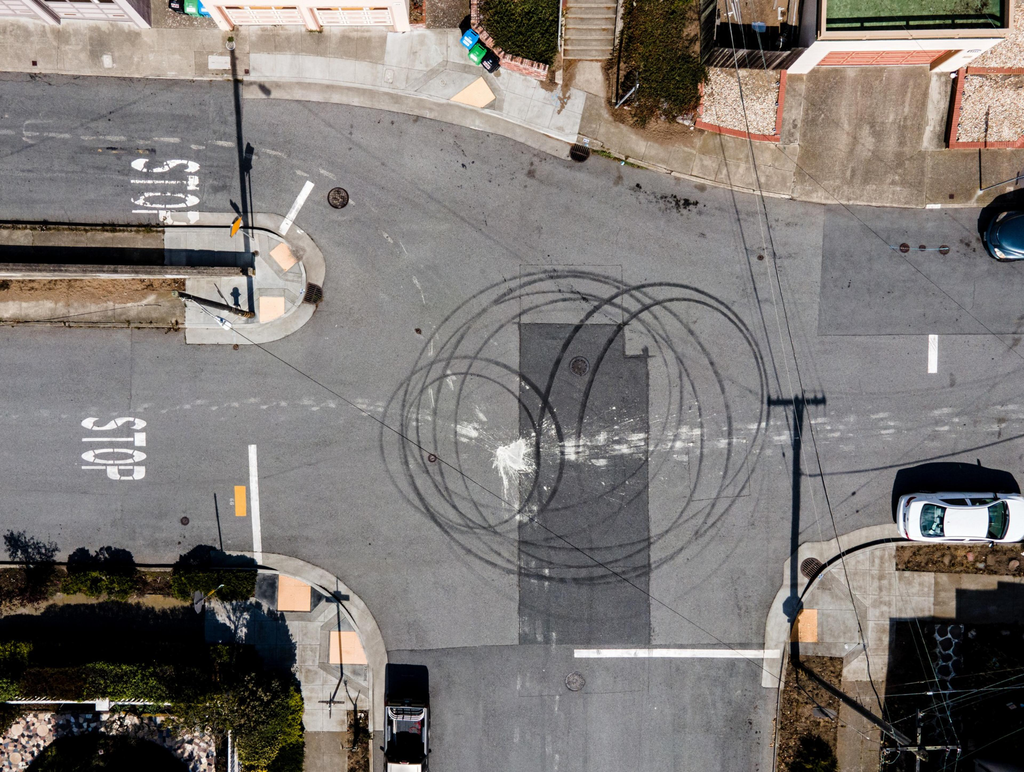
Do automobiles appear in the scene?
Yes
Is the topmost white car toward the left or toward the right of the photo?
right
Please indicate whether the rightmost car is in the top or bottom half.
top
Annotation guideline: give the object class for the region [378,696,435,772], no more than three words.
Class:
truck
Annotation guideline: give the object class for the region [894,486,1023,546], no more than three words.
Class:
car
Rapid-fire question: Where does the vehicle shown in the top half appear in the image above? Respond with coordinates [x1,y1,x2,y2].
[982,213,1024,265]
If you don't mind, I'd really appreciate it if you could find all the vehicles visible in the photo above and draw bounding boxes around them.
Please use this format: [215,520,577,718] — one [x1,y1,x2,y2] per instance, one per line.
[982,213,1024,265]
[378,696,435,772]
[894,486,1023,546]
